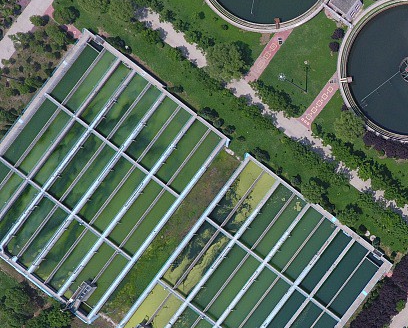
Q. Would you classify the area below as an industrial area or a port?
industrial area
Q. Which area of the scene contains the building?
top right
